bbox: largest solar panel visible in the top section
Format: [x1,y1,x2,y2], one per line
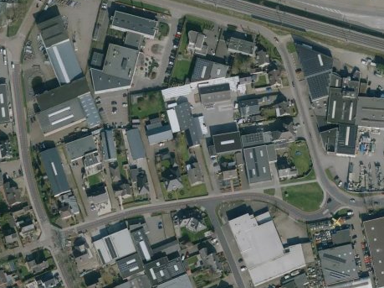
[309,72,330,99]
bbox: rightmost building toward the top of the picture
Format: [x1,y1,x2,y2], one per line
[356,96,384,129]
